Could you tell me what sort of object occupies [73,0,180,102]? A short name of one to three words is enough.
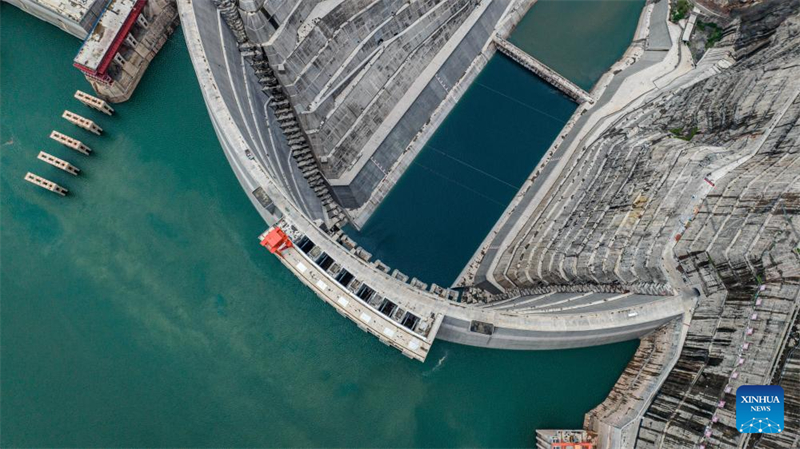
building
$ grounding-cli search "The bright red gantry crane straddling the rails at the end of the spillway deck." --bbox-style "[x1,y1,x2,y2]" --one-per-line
[260,230,292,261]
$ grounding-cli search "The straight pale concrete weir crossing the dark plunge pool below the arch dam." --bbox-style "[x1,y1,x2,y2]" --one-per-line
[493,36,593,108]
